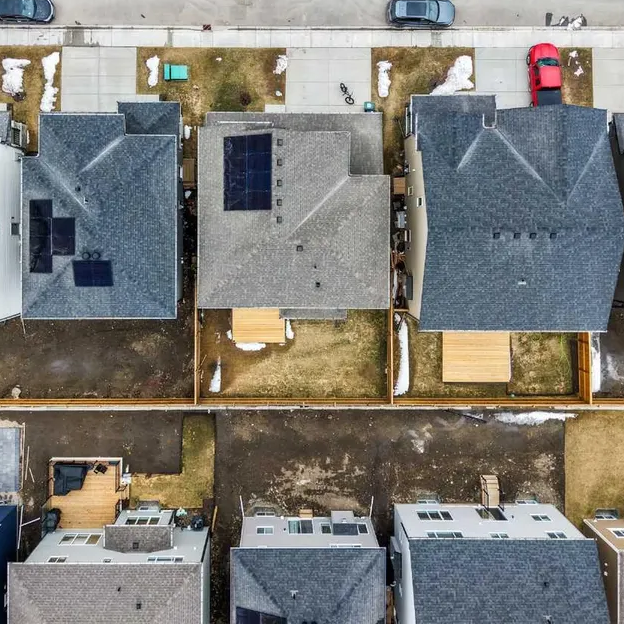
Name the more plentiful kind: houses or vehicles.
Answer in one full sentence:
Counting both kinds, the houses come out ahead of the vehicles.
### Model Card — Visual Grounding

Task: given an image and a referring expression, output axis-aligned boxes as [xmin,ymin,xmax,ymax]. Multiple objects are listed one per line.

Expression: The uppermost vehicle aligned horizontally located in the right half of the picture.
[387,0,456,29]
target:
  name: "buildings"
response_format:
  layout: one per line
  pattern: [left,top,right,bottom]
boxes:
[404,94,624,333]
[6,502,210,624]
[390,499,611,624]
[197,111,391,323]
[20,101,186,320]
[228,496,388,624]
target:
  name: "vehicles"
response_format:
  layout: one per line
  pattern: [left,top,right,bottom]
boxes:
[387,0,456,29]
[0,0,56,25]
[527,41,566,106]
